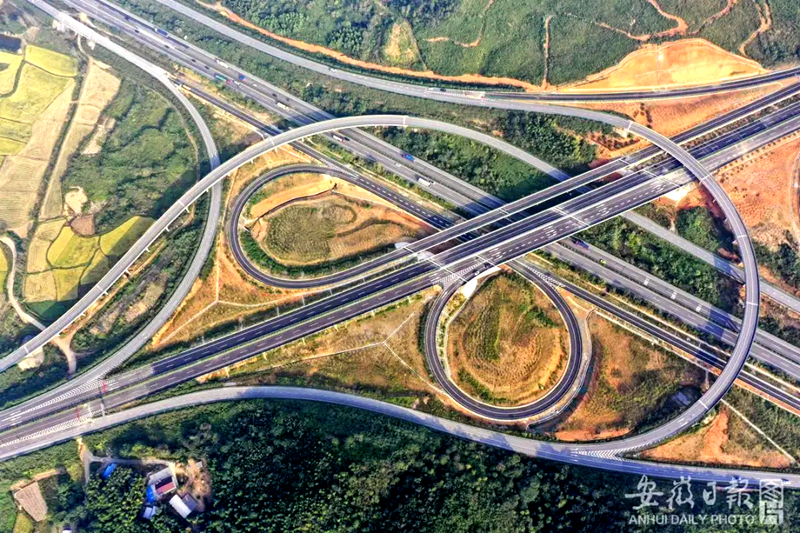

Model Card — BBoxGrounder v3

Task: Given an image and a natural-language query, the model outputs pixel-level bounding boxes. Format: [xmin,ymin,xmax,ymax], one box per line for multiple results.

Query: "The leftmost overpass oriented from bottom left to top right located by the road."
[0,115,406,372]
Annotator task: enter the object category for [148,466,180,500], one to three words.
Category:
house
